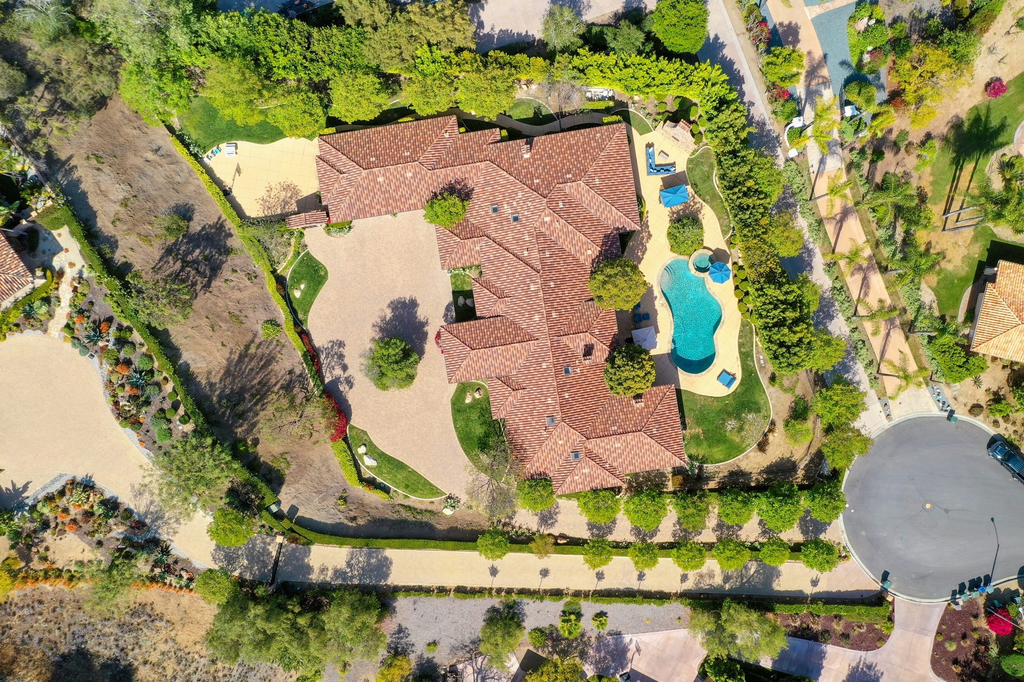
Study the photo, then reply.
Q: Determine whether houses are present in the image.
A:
Yes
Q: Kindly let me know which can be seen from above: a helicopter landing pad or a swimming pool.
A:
swimming pool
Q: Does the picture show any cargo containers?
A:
No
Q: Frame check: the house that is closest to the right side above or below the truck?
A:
above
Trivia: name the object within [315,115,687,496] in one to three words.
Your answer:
house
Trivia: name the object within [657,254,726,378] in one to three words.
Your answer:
swimming pool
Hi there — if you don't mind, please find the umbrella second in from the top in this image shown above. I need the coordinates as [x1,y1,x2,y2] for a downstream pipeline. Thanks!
[708,262,730,284]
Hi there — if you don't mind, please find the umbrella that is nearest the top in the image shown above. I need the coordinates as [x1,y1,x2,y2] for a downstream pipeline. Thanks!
[659,184,689,208]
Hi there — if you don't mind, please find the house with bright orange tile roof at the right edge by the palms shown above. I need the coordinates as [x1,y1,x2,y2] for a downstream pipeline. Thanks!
[958,259,1024,363]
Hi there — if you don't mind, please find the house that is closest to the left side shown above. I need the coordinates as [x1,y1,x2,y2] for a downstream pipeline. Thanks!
[0,222,43,314]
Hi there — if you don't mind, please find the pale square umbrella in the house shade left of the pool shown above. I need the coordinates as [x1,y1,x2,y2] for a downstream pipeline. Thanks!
[632,327,657,349]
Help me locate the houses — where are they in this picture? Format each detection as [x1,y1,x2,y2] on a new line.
[315,115,687,496]
[0,222,43,314]
[958,259,1024,363]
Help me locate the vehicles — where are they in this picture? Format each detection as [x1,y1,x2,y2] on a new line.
[993,445,1024,484]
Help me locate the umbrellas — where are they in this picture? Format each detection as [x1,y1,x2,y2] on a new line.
[708,262,730,284]
[632,327,657,349]
[659,184,689,208]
